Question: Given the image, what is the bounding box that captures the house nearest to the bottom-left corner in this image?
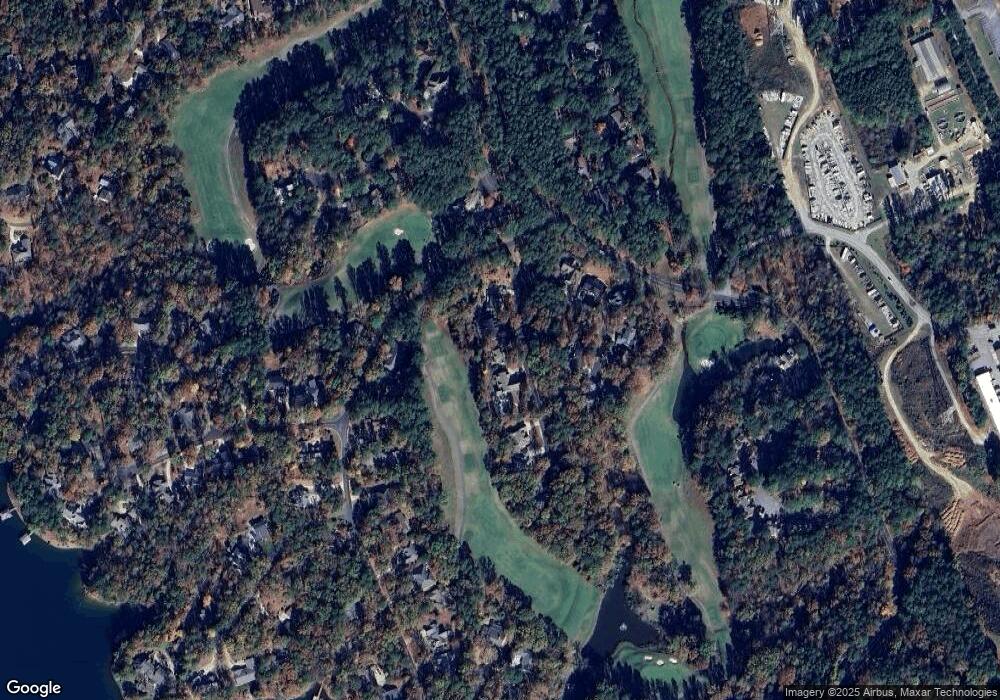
[130,657,169,700]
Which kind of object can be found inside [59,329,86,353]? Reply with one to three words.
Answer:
house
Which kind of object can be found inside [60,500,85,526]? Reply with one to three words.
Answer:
house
